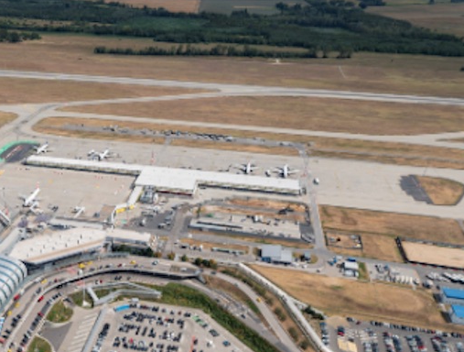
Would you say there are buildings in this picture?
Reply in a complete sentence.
Yes, a building appears in the view.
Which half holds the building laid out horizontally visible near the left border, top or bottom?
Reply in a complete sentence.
It is in the bottom half that the building laid out horizontally visible near the left border appears.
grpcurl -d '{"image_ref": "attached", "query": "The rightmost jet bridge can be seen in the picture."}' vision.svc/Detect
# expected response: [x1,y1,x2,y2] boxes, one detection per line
[29,201,42,214]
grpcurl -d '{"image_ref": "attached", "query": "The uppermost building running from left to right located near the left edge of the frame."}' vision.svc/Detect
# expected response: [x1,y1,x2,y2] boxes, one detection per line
[0,218,151,276]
